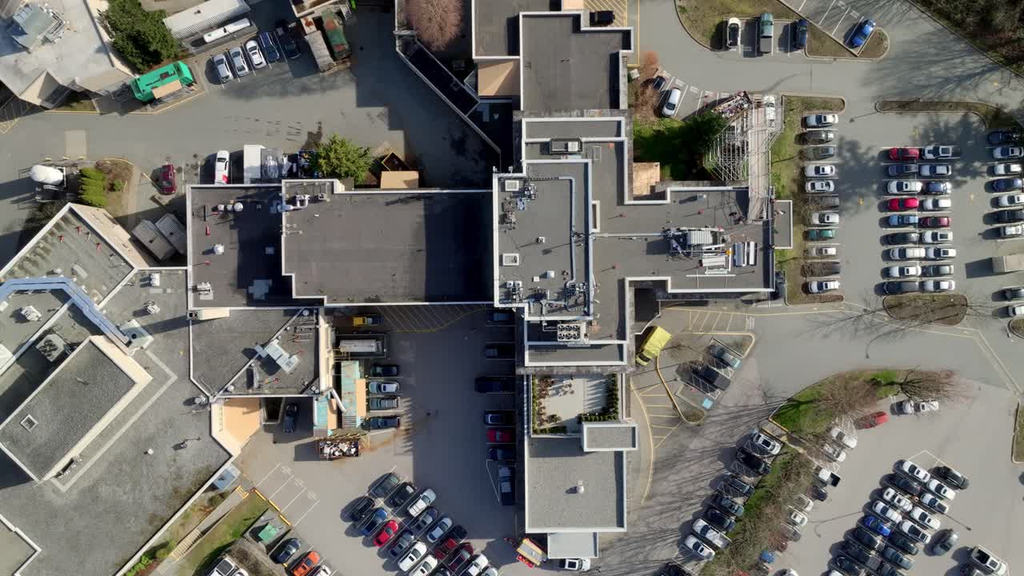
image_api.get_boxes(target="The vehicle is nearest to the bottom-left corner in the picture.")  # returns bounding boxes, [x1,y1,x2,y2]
[212,553,246,576]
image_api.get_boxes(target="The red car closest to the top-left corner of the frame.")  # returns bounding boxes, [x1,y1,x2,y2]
[160,164,177,195]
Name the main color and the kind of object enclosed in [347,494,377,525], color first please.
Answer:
black truck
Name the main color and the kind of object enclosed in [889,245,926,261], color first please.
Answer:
white vehicle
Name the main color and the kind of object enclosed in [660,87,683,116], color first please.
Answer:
white car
